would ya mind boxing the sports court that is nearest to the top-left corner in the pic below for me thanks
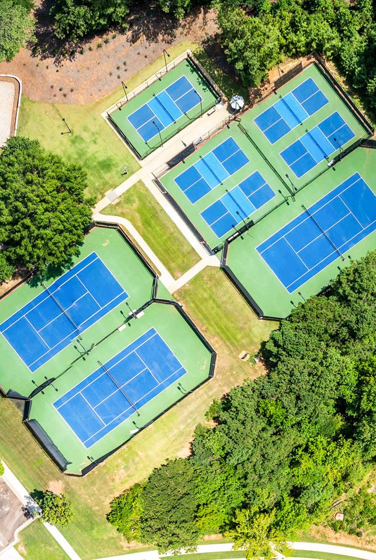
[109,60,220,158]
